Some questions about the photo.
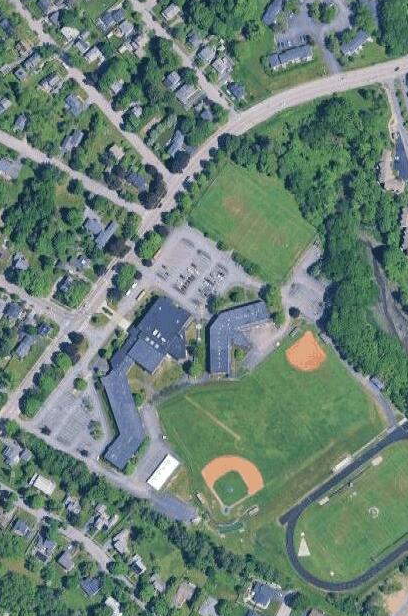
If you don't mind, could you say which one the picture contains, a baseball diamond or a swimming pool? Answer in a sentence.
Looking from above, you can make out a baseball diamond.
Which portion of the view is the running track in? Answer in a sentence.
The running track sits in the bottom right section of the image.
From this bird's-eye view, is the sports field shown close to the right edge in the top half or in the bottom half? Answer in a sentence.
It is in the bottom half that the sports field shown close to the right edge appears.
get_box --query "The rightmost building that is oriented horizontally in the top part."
[266,44,313,68]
